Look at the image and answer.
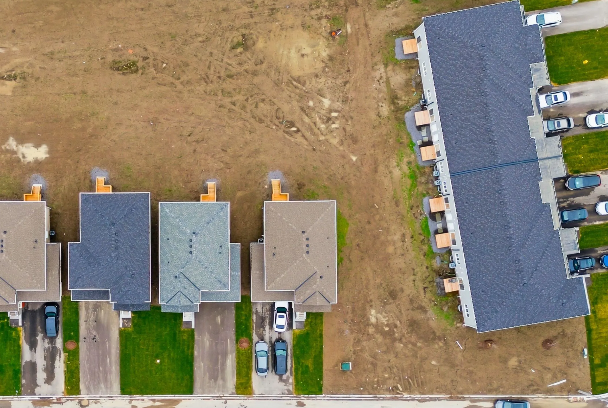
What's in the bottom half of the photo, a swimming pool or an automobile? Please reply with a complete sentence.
You can see an automobile in the bottom half of the photo.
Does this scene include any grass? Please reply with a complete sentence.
Yes, the picture does contain grass.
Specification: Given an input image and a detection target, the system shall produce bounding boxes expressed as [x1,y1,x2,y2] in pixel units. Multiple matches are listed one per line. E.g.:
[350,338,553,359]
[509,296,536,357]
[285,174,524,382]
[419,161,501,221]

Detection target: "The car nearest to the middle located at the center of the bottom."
[273,302,289,334]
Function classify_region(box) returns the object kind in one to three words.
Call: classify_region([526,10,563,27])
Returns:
car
